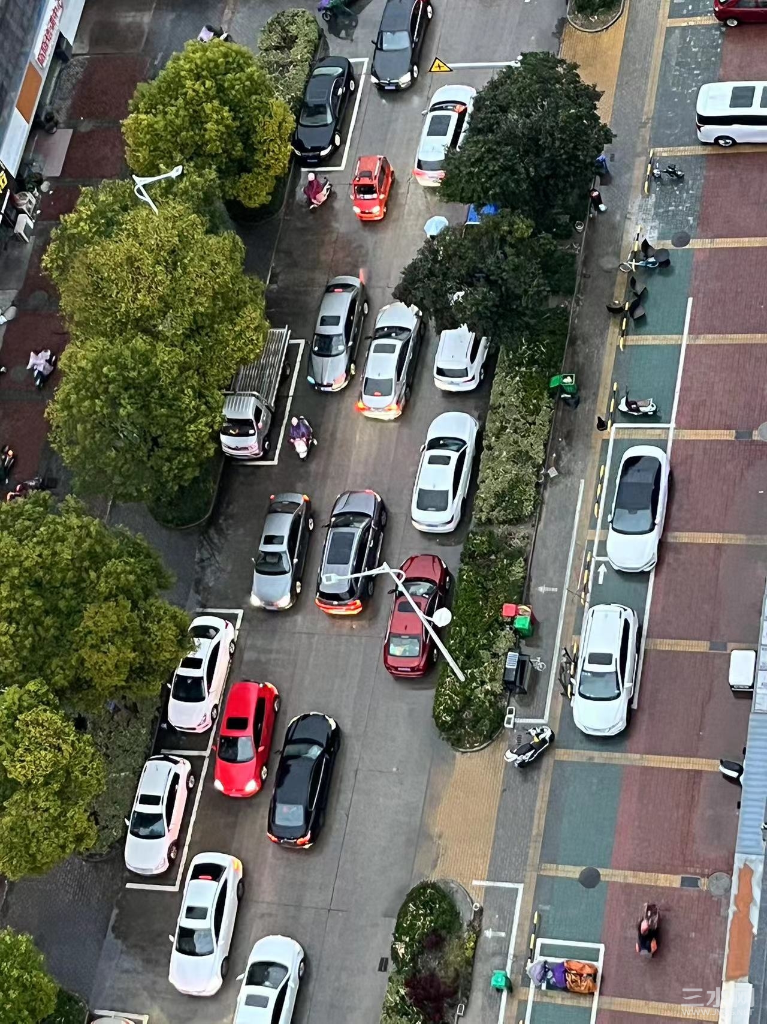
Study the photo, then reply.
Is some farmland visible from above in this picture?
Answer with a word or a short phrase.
No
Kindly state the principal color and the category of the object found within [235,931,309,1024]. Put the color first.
white car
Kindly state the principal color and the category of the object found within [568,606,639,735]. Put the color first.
white car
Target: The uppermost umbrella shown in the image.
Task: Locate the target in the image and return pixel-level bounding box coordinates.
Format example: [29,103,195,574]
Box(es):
[423,216,451,241]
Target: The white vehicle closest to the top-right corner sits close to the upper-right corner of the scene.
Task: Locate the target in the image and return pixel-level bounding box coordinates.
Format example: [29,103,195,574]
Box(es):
[702,79,767,143]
